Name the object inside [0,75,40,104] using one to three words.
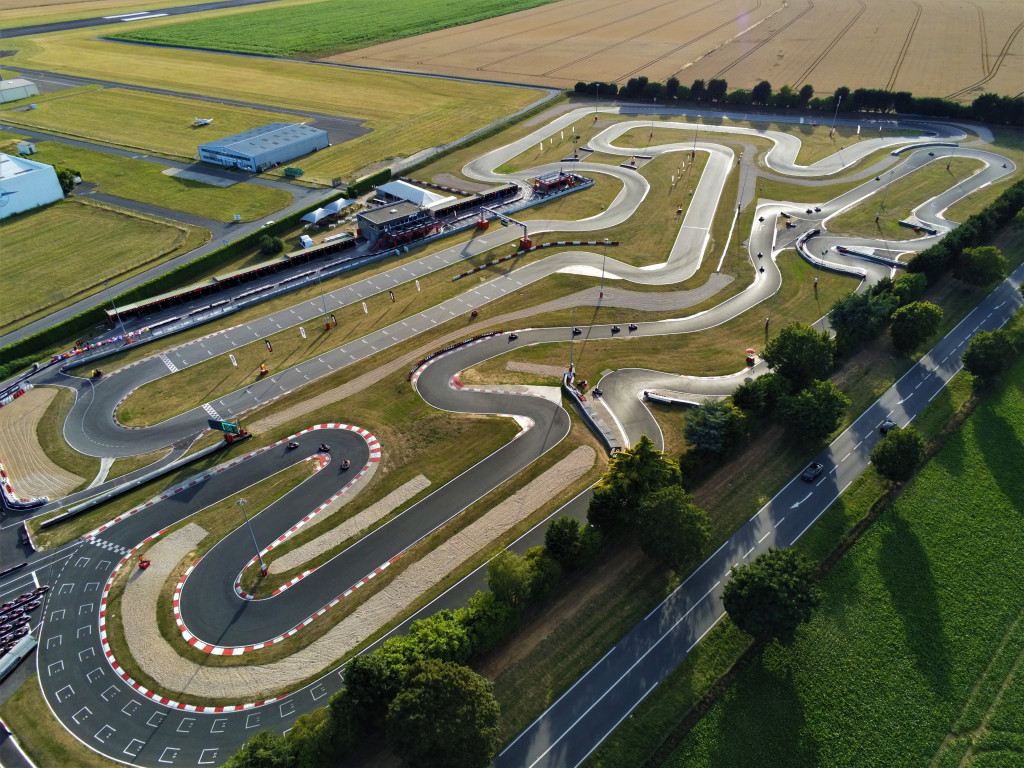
hangar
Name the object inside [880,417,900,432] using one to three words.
car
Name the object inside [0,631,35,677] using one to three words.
trailer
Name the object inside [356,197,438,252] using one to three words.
building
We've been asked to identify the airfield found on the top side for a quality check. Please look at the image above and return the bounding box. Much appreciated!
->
[0,0,548,337]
